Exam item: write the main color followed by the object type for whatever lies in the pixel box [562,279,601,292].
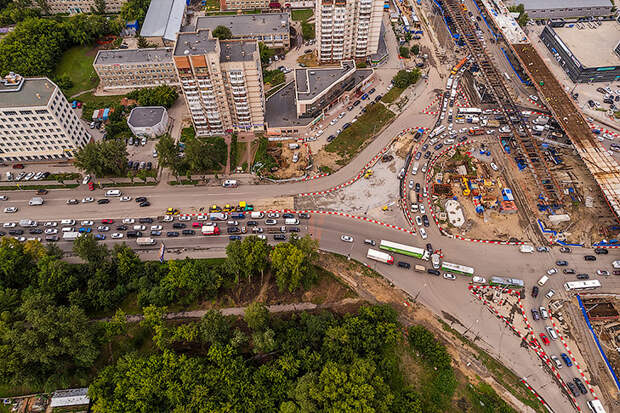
white vehicle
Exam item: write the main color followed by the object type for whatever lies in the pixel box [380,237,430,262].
white truck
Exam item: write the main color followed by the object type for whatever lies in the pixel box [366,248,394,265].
white vehicle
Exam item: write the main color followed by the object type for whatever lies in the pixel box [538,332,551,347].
red vehicle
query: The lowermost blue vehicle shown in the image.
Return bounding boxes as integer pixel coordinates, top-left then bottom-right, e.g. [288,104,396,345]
[560,352,573,368]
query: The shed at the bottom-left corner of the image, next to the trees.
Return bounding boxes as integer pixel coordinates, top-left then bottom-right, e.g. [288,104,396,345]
[48,386,94,408]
